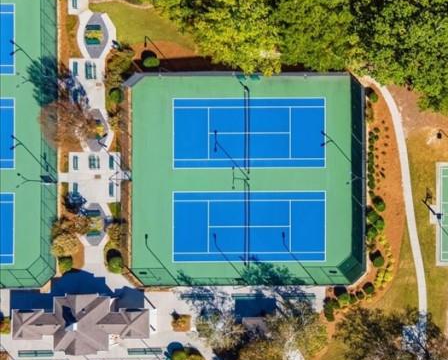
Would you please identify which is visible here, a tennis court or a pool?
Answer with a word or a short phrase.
tennis court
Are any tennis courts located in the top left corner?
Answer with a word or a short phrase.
Yes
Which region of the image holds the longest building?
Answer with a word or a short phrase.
bottom left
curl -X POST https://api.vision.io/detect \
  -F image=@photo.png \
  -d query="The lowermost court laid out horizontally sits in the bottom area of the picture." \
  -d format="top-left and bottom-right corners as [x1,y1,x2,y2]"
[132,180,364,285]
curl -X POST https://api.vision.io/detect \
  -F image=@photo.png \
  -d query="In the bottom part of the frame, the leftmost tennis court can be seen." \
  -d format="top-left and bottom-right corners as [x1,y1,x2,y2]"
[0,181,57,285]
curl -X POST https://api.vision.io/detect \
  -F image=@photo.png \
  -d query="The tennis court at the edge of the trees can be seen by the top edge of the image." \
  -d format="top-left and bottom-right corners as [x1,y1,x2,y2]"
[0,0,57,86]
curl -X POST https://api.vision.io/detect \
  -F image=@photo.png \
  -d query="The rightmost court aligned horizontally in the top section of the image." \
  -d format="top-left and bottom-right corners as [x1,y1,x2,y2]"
[132,74,362,180]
